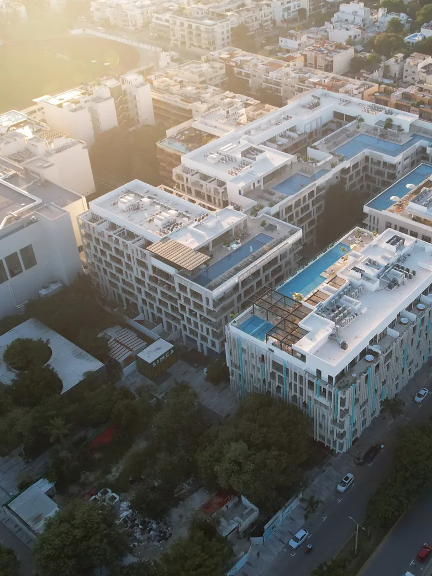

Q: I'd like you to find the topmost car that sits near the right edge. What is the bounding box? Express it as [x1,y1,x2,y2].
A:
[412,387,431,404]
